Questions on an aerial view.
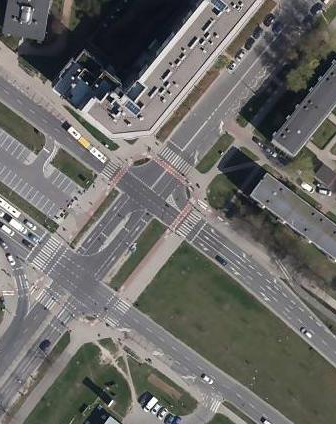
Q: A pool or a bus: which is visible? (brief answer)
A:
bus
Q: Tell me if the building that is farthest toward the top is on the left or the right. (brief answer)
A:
left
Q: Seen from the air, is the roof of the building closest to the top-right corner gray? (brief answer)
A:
Yes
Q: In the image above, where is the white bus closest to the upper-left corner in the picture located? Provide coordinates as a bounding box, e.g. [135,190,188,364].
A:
[67,125,108,164]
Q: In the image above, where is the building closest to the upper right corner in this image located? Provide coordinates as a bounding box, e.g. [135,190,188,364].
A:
[272,63,336,157]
